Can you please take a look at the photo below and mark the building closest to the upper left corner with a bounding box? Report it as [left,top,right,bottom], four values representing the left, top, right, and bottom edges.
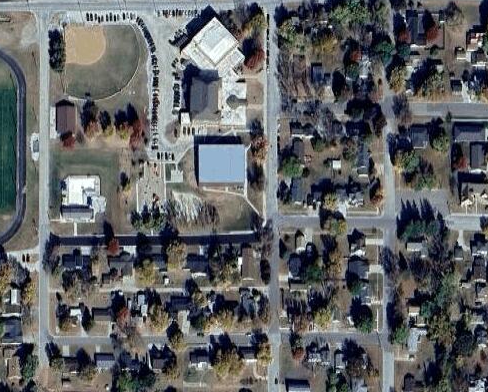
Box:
[57,104,76,135]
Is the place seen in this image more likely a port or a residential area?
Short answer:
residential area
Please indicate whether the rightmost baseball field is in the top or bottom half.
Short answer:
top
